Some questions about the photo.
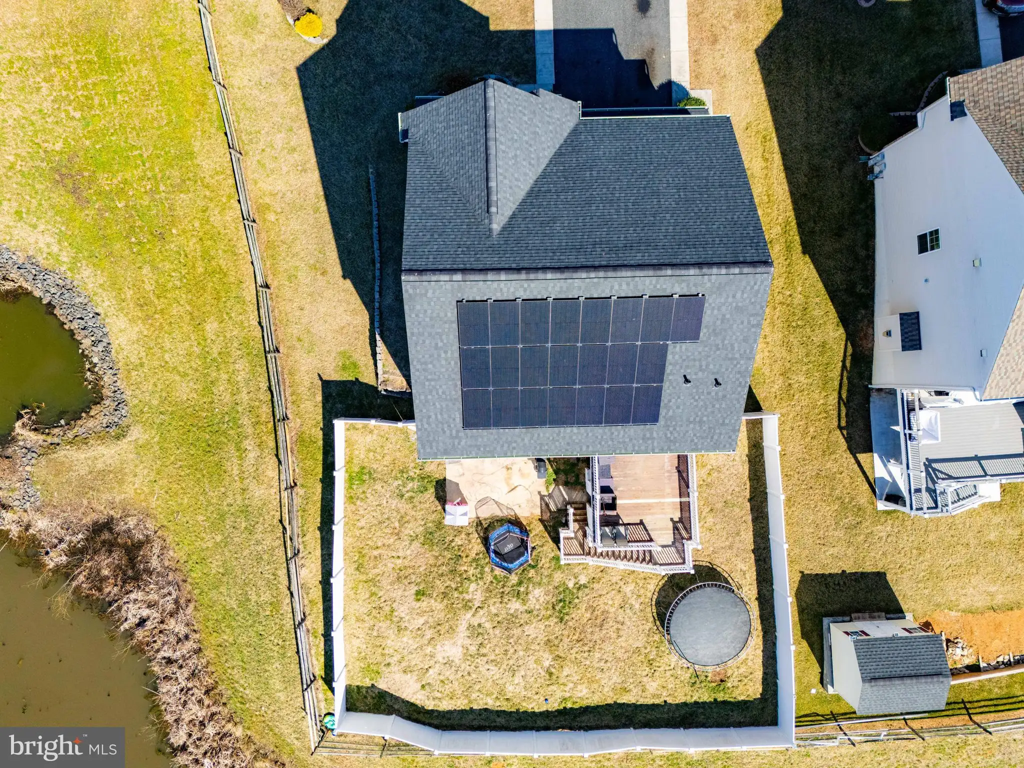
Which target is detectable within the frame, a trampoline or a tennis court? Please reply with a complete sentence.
It is a trampoline that can be seen here.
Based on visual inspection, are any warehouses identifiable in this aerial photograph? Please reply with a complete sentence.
No, no warehouse can be seen from above.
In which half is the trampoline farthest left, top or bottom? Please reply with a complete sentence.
The trampoline farthest left is in the bottom half of the image.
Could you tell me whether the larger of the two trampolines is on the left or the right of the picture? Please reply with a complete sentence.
The larger of the two trampolines appears in the right half of the scene.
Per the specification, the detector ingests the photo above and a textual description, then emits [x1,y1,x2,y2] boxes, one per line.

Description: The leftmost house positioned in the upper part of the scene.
[398,78,775,462]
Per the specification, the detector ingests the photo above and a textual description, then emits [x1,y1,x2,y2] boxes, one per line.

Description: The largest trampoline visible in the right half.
[663,578,755,671]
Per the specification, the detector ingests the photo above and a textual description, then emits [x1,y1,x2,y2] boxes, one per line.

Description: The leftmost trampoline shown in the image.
[487,522,530,578]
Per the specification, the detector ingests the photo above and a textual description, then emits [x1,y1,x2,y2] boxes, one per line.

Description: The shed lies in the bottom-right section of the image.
[823,605,955,715]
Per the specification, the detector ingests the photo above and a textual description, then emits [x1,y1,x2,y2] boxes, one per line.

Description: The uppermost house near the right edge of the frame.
[861,61,1024,403]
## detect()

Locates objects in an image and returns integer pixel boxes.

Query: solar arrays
[457,293,707,430]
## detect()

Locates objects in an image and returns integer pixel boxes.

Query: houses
[398,78,775,462]
[861,61,1024,403]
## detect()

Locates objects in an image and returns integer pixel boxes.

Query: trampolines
[663,578,755,671]
[487,522,530,578]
